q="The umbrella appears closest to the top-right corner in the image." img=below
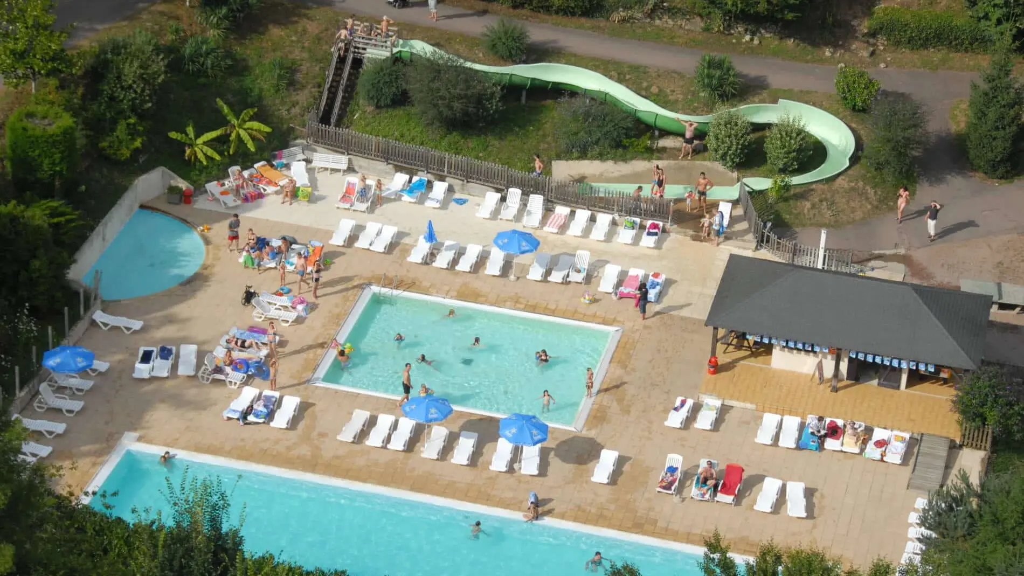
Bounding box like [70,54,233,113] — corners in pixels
[494,233,537,282]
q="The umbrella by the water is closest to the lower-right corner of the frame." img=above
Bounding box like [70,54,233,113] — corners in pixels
[499,418,547,472]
